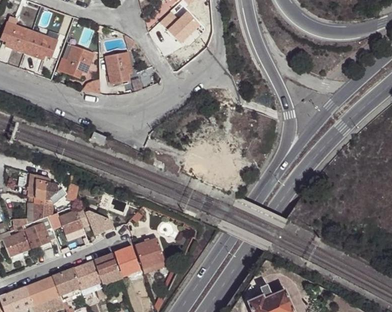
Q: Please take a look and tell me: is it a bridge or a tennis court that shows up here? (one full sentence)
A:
I can see a bridge in this picture.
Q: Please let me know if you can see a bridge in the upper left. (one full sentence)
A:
No, no bridge can be made out in the upper left.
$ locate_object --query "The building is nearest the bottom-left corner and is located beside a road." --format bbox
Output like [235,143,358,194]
[0,286,33,312]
